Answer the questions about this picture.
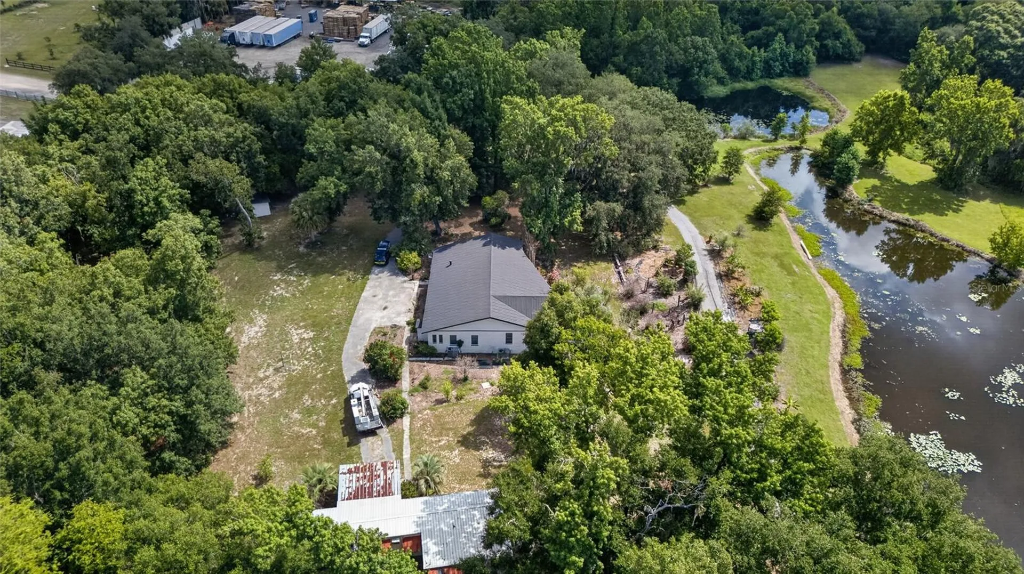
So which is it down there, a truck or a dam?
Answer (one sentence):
The image shows a truck.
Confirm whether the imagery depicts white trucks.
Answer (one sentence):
Yes, you can see a white truck in this photo.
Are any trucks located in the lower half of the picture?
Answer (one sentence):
Yes, you'll find a truck in the lower half of the picture.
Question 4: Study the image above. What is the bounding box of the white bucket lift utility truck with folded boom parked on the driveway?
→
[354,377,387,435]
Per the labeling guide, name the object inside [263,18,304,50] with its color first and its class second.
blue trailer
